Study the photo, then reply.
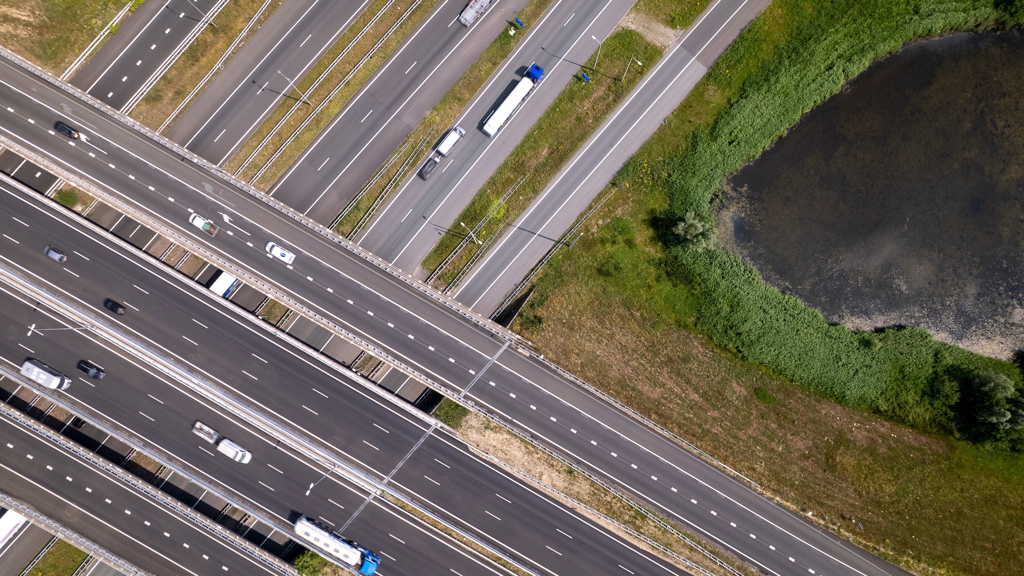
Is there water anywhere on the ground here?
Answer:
Yes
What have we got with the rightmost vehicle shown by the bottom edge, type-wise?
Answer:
truck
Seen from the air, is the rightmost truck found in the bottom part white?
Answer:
Yes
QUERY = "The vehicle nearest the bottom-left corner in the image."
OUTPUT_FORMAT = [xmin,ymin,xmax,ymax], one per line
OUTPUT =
[0,512,25,549]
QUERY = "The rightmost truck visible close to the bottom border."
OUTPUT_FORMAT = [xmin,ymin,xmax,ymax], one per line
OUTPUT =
[297,514,379,574]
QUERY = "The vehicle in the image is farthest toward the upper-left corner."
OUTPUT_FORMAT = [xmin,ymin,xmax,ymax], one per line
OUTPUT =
[54,121,81,141]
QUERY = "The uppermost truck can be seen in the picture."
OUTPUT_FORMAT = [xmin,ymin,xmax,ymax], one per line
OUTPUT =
[459,0,497,31]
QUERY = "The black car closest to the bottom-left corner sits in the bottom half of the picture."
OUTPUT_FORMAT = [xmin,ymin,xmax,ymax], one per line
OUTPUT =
[73,419,88,431]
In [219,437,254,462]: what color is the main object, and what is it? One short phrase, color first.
white vehicle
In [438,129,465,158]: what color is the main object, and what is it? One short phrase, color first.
white vehicle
